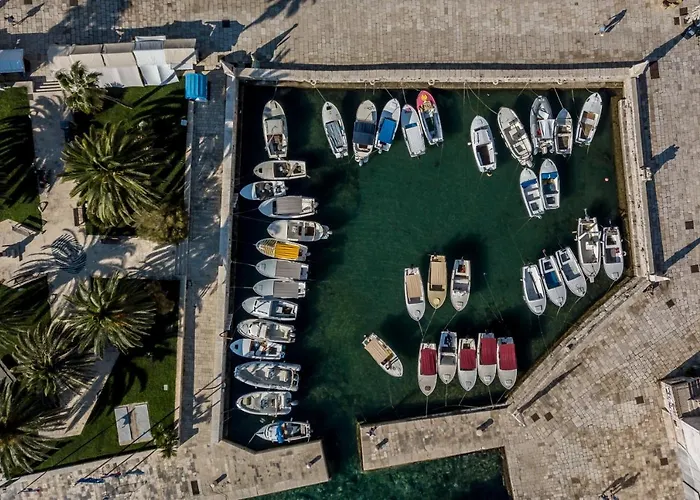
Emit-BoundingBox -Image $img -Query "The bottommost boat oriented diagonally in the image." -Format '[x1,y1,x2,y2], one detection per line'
[363,332,402,376]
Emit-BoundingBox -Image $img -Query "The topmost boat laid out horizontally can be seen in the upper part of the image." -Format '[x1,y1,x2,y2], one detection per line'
[254,159,308,181]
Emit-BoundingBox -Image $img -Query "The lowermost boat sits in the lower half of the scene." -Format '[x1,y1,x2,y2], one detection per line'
[256,417,314,445]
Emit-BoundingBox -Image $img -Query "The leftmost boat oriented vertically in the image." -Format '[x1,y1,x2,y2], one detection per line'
[262,100,289,161]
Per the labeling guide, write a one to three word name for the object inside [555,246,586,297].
boat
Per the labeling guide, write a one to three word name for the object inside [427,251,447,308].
boat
